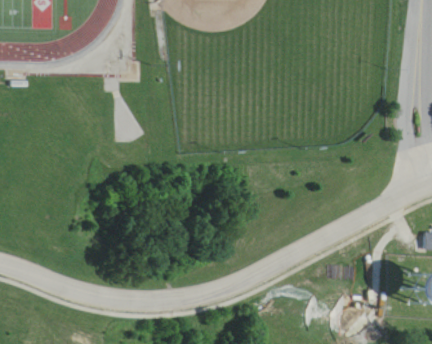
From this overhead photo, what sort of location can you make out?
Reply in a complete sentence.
It's a sports ground.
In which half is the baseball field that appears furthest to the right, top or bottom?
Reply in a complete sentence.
The top half of the photo is where the baseball field that appears furthest to the right is.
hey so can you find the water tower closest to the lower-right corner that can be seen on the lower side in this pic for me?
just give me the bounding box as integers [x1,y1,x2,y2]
[399,274,432,310]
